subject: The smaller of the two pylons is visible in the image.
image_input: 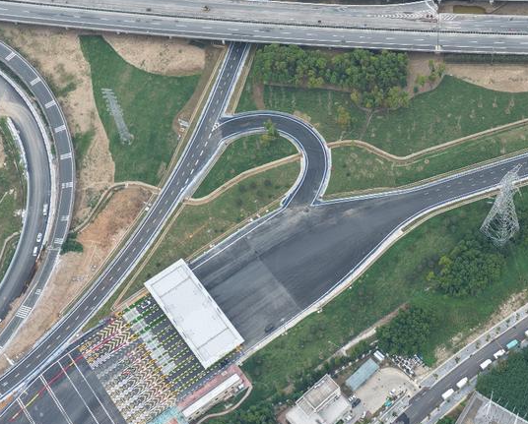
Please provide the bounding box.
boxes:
[106,86,134,142]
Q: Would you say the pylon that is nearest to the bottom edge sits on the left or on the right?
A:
right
